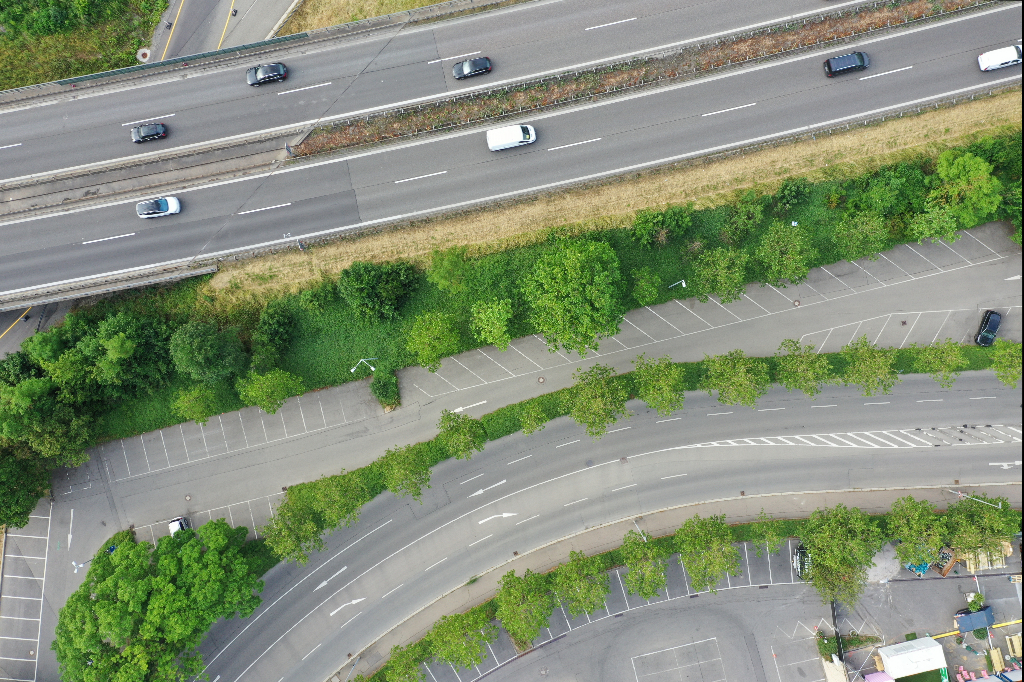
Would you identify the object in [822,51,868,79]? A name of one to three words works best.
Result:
van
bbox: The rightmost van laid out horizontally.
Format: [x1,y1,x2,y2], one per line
[977,43,1024,72]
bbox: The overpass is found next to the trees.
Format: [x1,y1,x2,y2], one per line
[0,12,415,315]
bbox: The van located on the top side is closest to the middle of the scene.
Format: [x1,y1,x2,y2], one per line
[486,123,536,152]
